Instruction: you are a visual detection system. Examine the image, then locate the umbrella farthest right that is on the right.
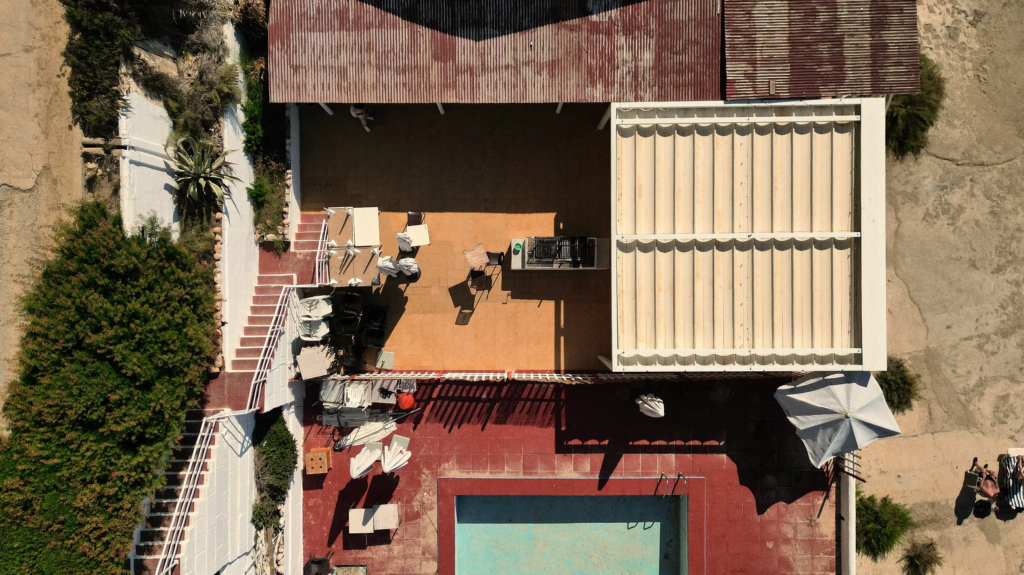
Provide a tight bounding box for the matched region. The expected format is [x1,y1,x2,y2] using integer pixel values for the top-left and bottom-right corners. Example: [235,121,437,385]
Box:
[774,354,901,469]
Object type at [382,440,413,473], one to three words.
umbrella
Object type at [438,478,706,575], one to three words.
swimming pool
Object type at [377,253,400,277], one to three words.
umbrella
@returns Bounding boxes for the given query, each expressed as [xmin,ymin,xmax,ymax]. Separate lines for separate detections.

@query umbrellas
[399,257,424,276]
[317,403,373,427]
[636,392,664,416]
[399,230,423,252]
[774,354,901,469]
[367,405,403,419]
[382,440,413,473]
[334,419,398,448]
[377,253,400,277]
[353,448,380,479]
